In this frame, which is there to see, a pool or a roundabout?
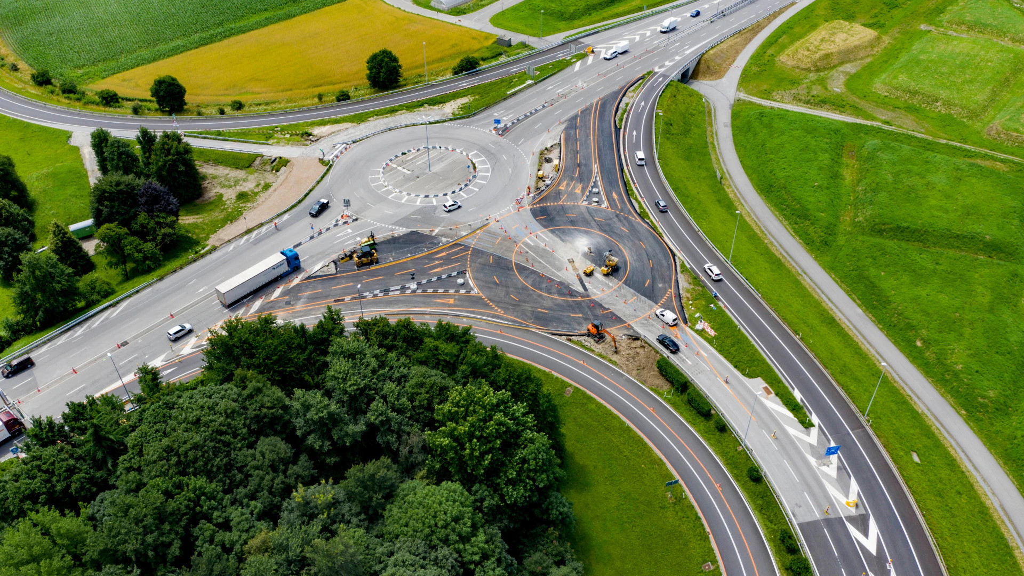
roundabout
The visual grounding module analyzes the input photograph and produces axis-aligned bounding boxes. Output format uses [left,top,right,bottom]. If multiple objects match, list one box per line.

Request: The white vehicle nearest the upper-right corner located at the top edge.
[661,16,677,31]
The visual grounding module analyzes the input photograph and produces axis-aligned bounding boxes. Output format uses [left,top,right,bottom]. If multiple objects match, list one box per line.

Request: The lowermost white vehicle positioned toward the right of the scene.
[655,310,678,327]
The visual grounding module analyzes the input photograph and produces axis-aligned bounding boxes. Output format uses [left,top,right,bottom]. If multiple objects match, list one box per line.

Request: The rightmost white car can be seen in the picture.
[702,265,723,281]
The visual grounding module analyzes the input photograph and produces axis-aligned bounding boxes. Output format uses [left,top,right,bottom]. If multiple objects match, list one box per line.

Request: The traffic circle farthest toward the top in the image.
[380,145,479,197]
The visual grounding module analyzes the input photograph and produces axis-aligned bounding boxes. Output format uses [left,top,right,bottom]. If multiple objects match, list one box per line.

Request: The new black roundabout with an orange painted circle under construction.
[547,228,627,279]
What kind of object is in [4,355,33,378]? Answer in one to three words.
vehicle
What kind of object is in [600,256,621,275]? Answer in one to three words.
vehicle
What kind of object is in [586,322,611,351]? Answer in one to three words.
work vehicle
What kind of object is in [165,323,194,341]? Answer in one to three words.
car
